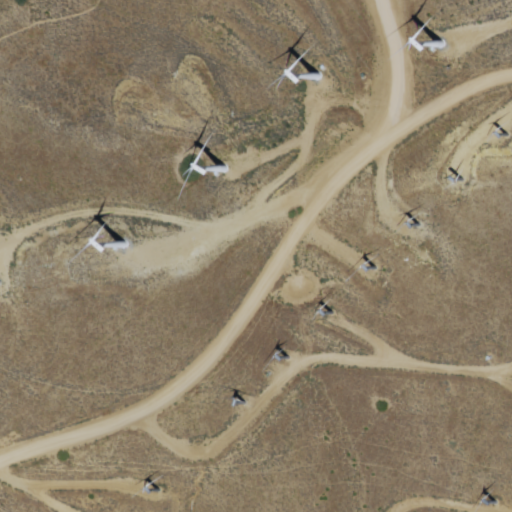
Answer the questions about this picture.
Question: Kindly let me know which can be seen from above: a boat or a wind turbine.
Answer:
wind turbine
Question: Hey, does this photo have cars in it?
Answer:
No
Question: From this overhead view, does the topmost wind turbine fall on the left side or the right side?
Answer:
right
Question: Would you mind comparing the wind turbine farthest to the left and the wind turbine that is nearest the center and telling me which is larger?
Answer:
the wind turbine farthest to the left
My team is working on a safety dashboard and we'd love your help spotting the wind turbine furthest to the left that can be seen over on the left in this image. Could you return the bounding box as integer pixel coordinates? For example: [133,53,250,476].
[65,216,132,270]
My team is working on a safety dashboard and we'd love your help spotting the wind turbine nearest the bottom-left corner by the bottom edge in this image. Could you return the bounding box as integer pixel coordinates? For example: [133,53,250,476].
[134,476,161,502]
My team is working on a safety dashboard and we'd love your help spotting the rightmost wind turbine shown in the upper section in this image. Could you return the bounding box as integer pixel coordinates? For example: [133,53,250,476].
[486,118,510,145]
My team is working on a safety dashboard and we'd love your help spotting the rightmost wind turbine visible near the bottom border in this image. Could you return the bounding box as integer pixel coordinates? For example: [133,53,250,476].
[477,484,499,512]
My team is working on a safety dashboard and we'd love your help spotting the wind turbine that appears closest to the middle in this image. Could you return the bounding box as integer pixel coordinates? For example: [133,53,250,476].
[308,292,335,320]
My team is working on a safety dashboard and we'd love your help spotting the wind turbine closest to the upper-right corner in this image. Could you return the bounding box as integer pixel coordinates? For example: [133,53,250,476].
[392,4,448,52]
